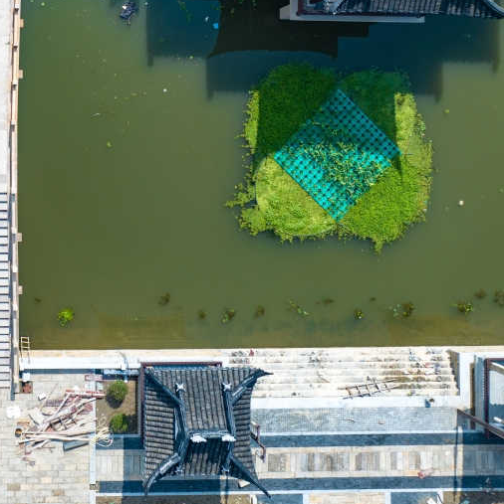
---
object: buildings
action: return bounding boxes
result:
[287,0,504,27]
[137,355,274,501]
[467,357,504,442]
